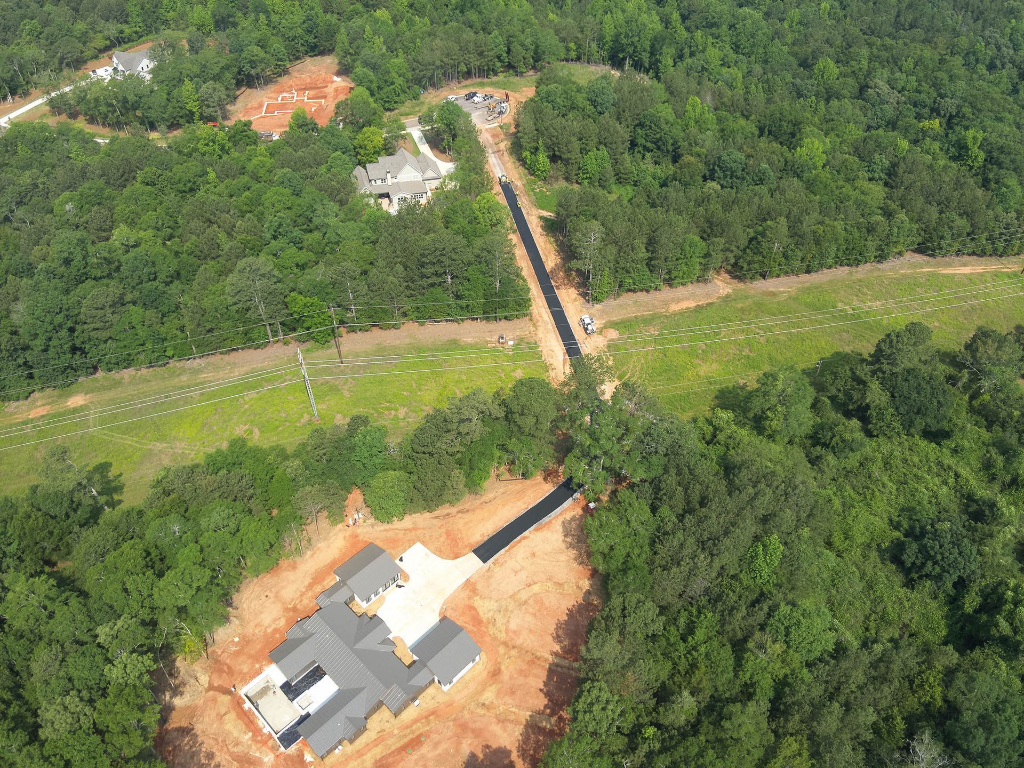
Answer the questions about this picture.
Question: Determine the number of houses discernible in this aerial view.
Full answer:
In total, there are 3 houses in the scene.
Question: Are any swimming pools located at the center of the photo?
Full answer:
No, there's no swimming pool to be seen at the center of the photo.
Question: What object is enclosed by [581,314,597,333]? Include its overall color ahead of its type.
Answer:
white vehicle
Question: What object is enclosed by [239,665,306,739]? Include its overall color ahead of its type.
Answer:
white swimming pool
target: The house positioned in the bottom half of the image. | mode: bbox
[267,542,483,761]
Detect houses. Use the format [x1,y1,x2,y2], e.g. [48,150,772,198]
[267,542,483,761]
[360,148,442,206]
[113,42,165,78]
